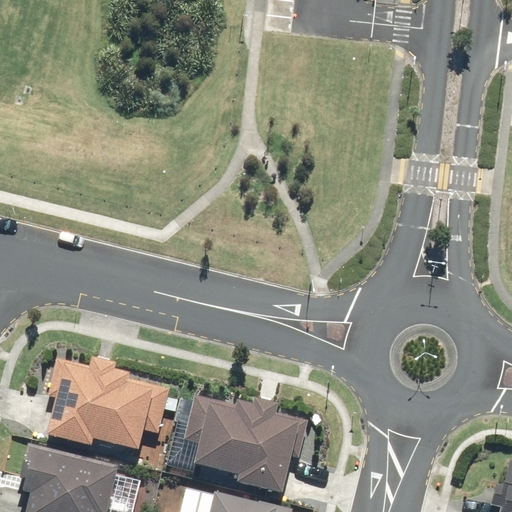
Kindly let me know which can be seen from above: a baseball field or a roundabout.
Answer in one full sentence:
The one in the frame is a roundabout.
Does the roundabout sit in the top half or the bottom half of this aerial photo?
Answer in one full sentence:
The roundabout sits in the bottom half of the picture.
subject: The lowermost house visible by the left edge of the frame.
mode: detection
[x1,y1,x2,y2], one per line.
[16,443,118,512]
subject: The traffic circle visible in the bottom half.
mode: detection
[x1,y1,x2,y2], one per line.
[390,324,458,392]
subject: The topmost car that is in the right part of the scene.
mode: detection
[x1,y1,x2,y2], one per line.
[296,466,329,484]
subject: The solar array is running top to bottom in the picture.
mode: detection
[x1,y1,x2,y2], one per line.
[53,378,76,418]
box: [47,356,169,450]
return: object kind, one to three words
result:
house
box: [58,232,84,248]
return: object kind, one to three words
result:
vehicle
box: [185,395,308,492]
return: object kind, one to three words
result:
house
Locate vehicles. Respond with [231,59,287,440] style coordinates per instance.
[464,501,498,512]
[58,232,84,248]
[0,220,16,234]
[296,466,329,484]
